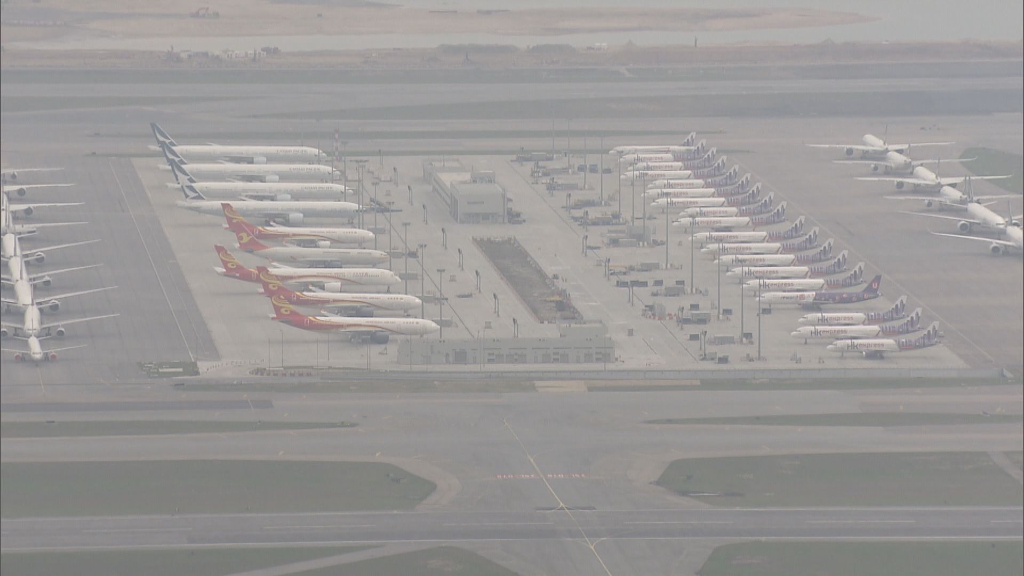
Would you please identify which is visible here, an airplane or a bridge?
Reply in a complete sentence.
Looking from above, you can make out an airplane.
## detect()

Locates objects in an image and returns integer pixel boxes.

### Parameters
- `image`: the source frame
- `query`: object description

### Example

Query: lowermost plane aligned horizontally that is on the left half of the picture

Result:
[0,326,86,365]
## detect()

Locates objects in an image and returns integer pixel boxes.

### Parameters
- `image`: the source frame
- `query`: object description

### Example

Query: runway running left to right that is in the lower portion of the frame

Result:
[0,506,1024,547]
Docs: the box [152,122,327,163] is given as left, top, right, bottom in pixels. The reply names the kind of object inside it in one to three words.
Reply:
airplane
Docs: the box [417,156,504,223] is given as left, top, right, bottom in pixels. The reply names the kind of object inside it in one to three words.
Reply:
building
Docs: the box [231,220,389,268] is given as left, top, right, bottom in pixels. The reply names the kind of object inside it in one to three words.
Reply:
airplane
